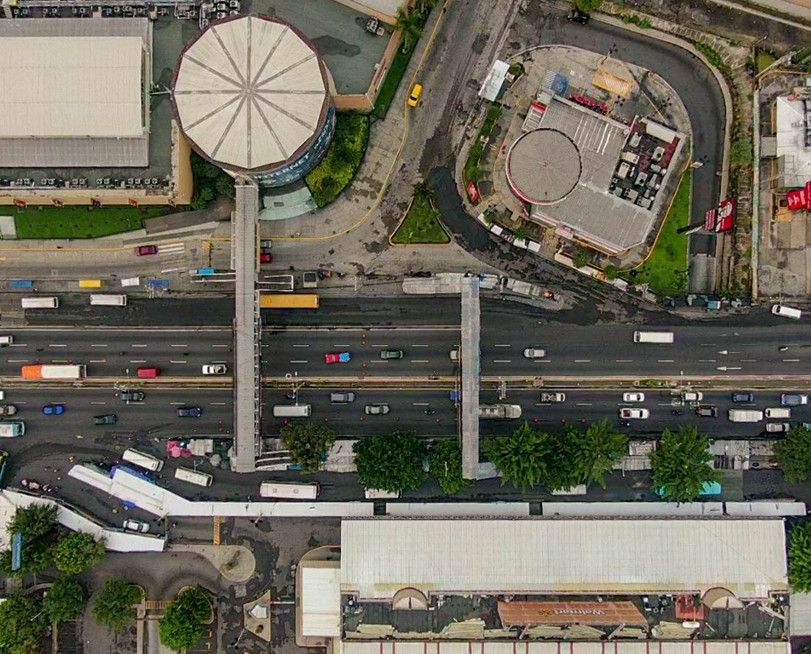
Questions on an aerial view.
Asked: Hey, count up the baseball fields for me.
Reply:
zero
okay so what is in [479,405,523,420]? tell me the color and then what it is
gray vehicle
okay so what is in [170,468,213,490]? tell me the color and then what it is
white vehicle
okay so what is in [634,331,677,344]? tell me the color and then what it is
white vehicle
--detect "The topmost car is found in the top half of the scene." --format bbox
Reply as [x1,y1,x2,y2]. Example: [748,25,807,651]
[569,7,589,21]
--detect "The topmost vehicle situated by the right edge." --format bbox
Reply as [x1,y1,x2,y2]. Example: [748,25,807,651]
[772,302,805,320]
